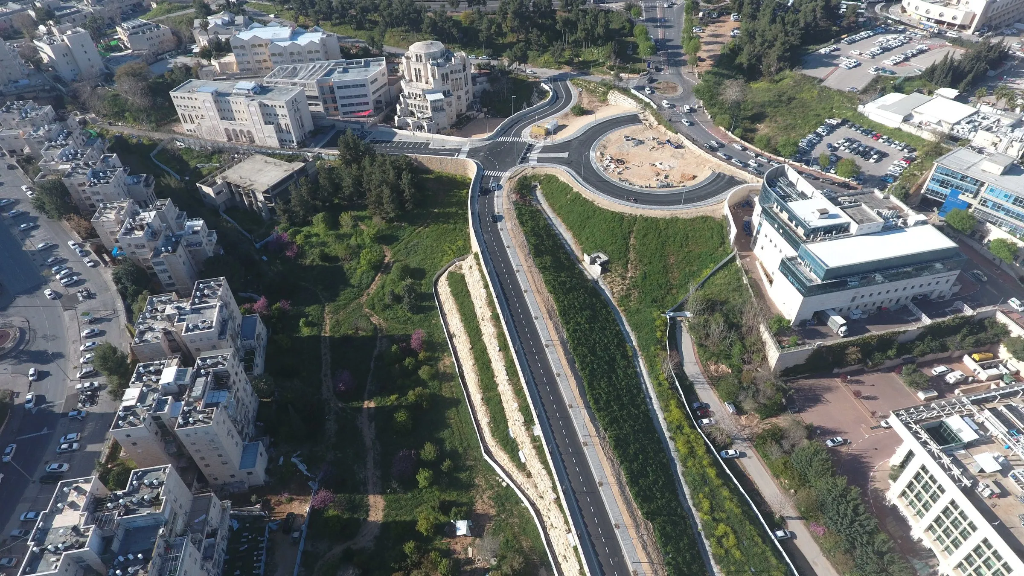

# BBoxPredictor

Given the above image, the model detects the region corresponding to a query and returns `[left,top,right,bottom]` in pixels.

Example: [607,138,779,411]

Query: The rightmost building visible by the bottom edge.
[877,383,1024,576]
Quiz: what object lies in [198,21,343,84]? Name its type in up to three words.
building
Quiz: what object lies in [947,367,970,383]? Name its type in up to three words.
camper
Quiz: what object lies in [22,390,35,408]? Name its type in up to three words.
vehicle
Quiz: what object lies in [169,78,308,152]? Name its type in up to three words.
building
